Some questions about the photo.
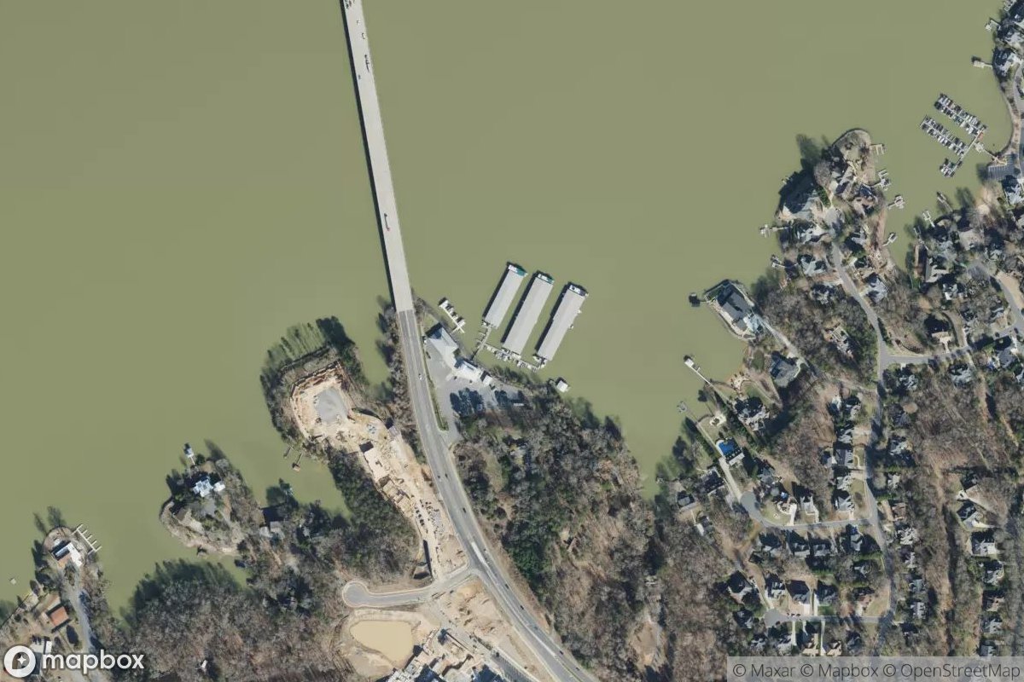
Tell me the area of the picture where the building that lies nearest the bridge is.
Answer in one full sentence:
The building that lies nearest the bridge sits in the center section of the image.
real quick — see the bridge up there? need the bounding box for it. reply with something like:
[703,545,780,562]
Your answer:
[344,0,414,313]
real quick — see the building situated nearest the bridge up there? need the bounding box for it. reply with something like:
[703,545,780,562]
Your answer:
[428,327,459,367]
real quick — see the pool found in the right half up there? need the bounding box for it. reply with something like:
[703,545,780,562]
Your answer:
[717,437,736,455]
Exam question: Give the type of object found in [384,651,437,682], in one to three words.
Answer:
building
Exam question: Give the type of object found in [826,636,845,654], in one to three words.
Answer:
house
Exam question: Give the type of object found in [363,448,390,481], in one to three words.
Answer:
building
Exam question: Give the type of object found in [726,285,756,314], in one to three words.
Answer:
house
